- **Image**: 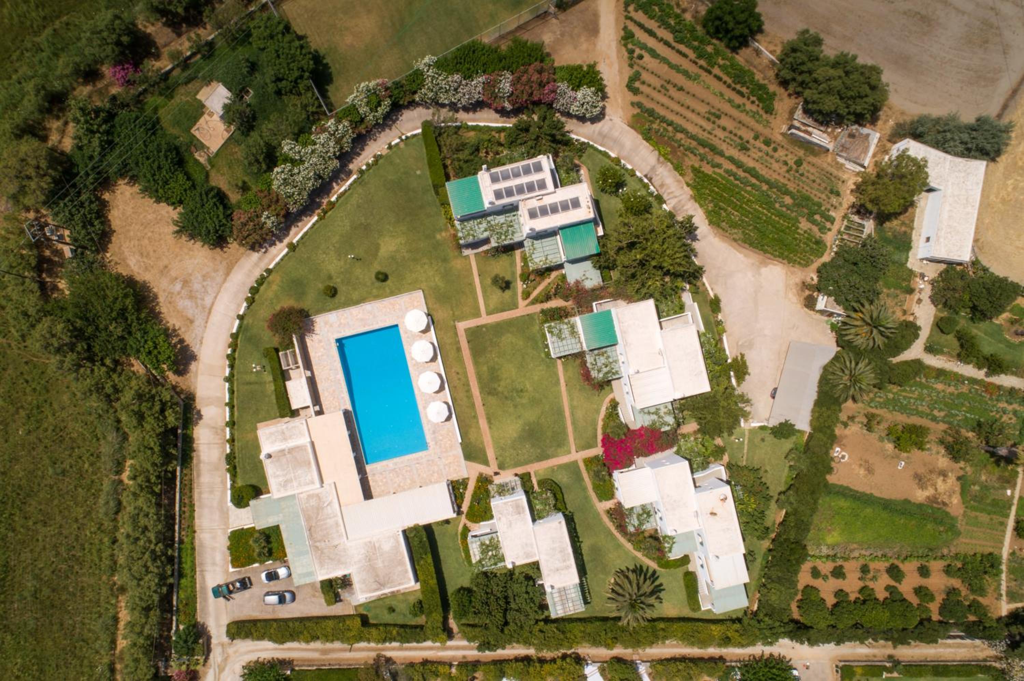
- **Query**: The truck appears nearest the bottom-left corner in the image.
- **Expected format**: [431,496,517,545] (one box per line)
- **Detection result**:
[211,575,254,602]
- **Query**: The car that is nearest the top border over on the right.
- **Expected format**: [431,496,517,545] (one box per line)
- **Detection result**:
[765,387,778,399]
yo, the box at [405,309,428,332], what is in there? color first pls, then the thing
white umbrella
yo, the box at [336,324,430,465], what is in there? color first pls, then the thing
blue swimming pool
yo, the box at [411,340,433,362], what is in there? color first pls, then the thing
white umbrella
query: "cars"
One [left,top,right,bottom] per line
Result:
[765,387,778,399]
[264,589,297,605]
[261,565,292,582]
[786,665,801,681]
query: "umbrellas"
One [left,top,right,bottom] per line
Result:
[405,309,428,332]
[418,371,441,394]
[411,340,433,362]
[427,401,449,423]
